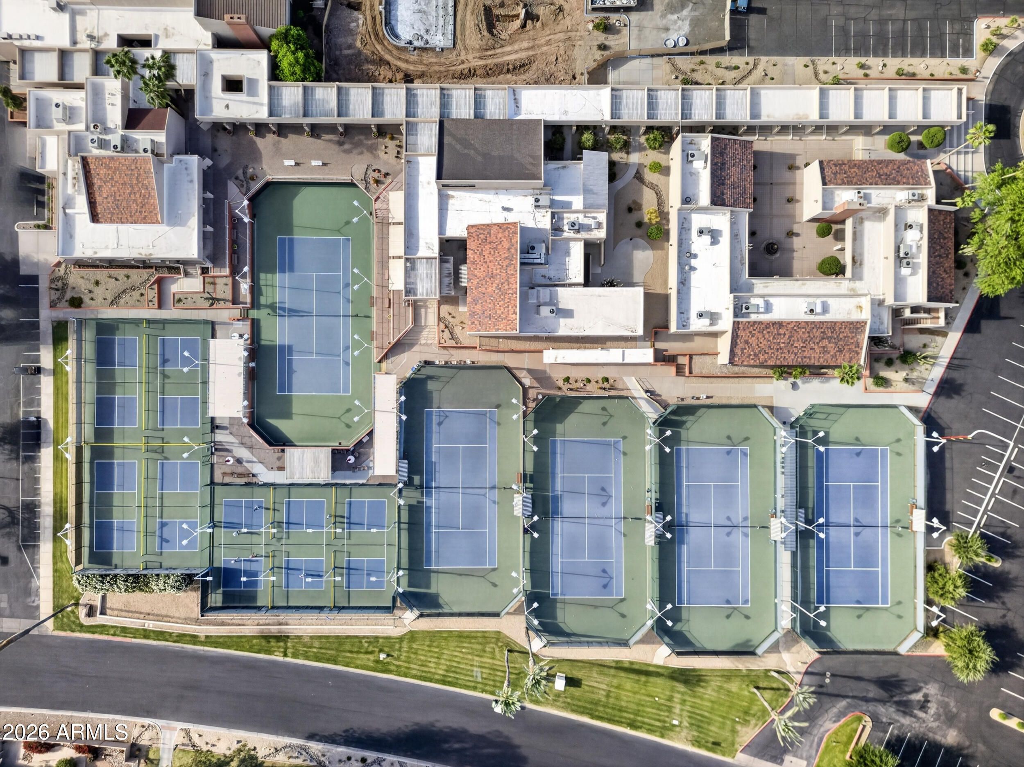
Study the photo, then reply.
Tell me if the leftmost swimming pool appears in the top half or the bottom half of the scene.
top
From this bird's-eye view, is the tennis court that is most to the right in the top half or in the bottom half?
bottom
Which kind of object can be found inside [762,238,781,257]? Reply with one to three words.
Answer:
fountain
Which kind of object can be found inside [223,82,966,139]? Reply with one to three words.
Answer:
building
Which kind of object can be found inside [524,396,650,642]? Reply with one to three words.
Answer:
tennis court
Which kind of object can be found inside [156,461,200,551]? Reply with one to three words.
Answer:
sports court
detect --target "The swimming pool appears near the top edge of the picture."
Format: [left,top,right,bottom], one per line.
[384,0,454,47]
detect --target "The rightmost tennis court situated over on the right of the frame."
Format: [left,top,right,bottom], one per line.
[791,404,916,649]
